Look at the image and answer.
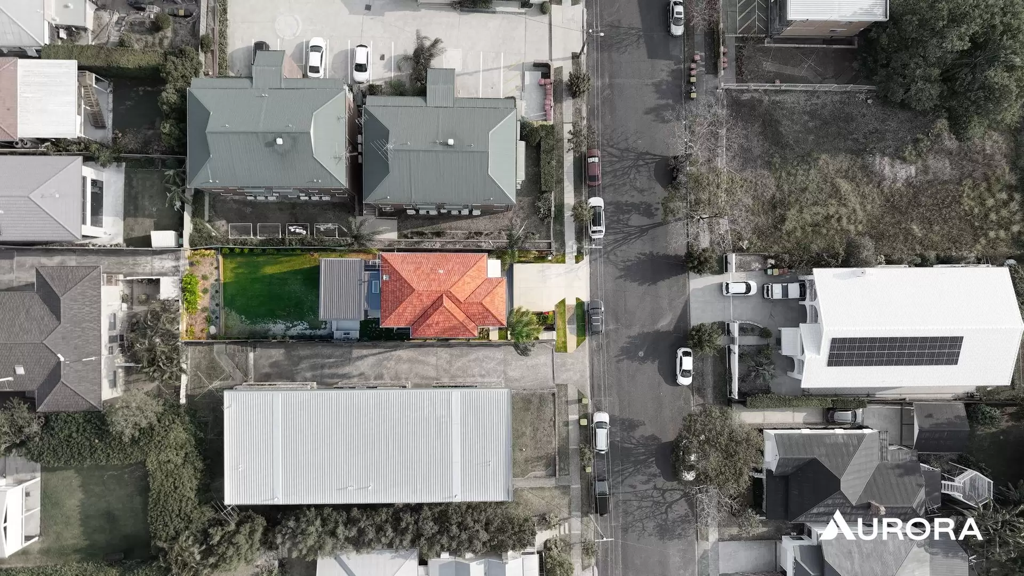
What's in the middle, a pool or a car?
car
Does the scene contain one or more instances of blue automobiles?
No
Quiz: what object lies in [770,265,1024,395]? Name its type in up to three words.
house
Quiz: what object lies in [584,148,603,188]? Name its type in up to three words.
car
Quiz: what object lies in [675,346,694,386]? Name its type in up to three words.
car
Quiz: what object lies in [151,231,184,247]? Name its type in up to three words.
shed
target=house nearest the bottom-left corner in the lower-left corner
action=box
[0,474,50,557]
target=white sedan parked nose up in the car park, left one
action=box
[306,38,327,79]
